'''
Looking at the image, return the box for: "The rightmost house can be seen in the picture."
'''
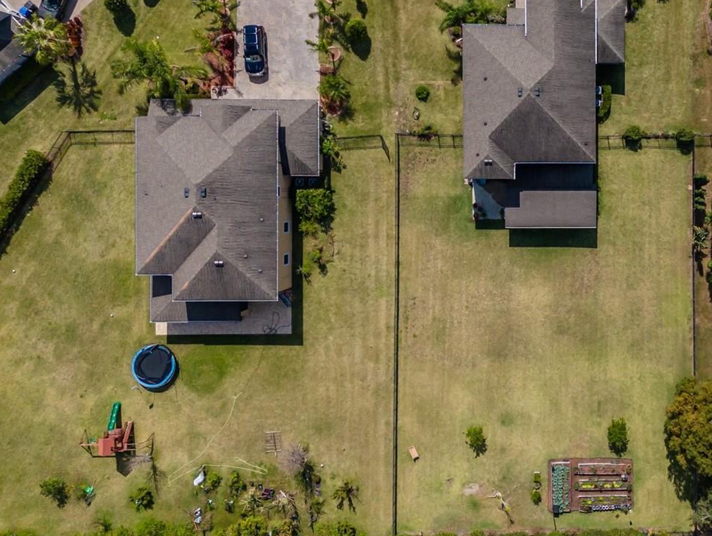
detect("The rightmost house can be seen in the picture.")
[462,0,625,198]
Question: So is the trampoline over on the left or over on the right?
left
